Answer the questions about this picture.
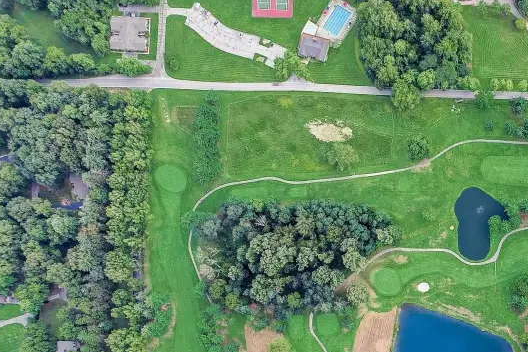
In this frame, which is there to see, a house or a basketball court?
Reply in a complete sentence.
It is a house that can be seen here.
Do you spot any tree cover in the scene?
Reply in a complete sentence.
Yes, there is tree cover in the image.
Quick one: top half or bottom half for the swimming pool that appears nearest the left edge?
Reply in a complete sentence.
The swimming pool that appears nearest the left edge is in the top half of the image.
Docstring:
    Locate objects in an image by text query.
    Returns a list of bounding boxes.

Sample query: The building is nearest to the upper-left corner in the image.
[110,13,151,55]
